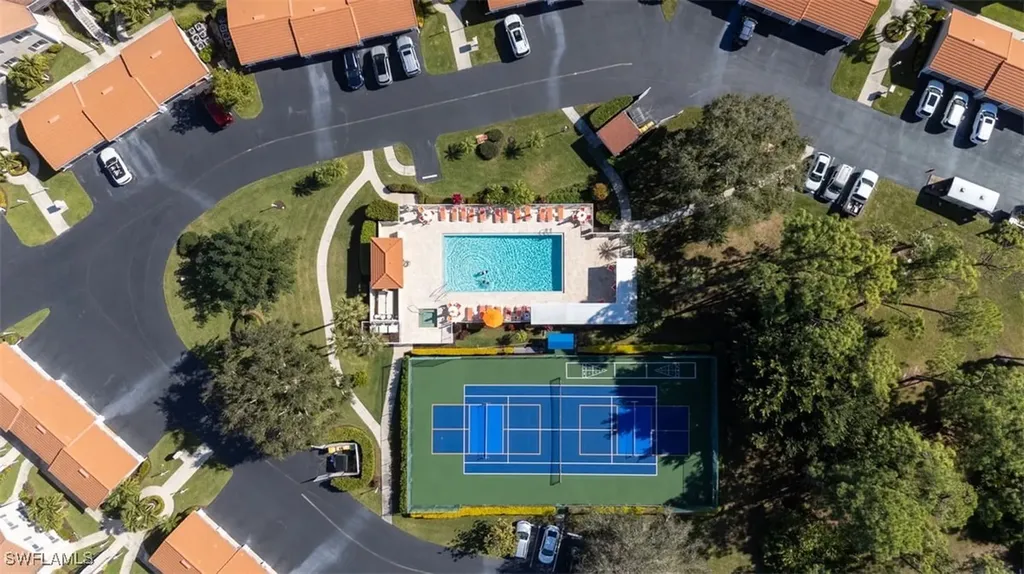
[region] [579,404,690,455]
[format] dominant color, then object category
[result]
blue sports court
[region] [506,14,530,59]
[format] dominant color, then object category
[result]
white car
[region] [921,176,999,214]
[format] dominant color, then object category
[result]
white trailer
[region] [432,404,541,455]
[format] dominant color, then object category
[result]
blue sports court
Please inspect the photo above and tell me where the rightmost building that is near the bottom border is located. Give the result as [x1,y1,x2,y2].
[151,508,287,574]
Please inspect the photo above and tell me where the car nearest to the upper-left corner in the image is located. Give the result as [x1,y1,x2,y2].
[103,147,133,186]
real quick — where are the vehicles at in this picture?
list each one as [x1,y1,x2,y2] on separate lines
[103,147,133,186]
[372,46,393,87]
[734,13,758,49]
[843,168,879,219]
[539,522,560,563]
[199,92,234,127]
[513,517,532,561]
[914,80,943,120]
[506,14,530,59]
[803,153,829,193]
[969,103,997,145]
[398,36,421,78]
[344,49,364,90]
[940,91,968,131]
[822,163,854,203]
